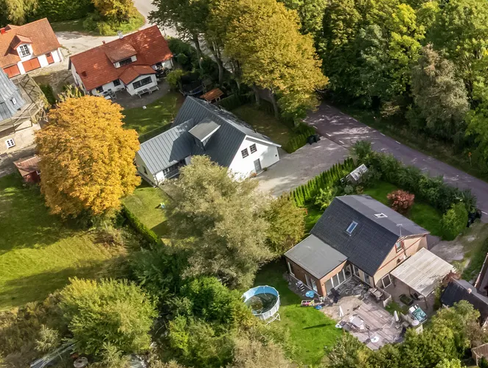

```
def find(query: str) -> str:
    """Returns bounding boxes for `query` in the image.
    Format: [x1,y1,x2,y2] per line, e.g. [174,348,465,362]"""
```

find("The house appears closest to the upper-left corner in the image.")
[0,18,64,76]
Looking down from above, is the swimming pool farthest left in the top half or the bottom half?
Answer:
bottom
